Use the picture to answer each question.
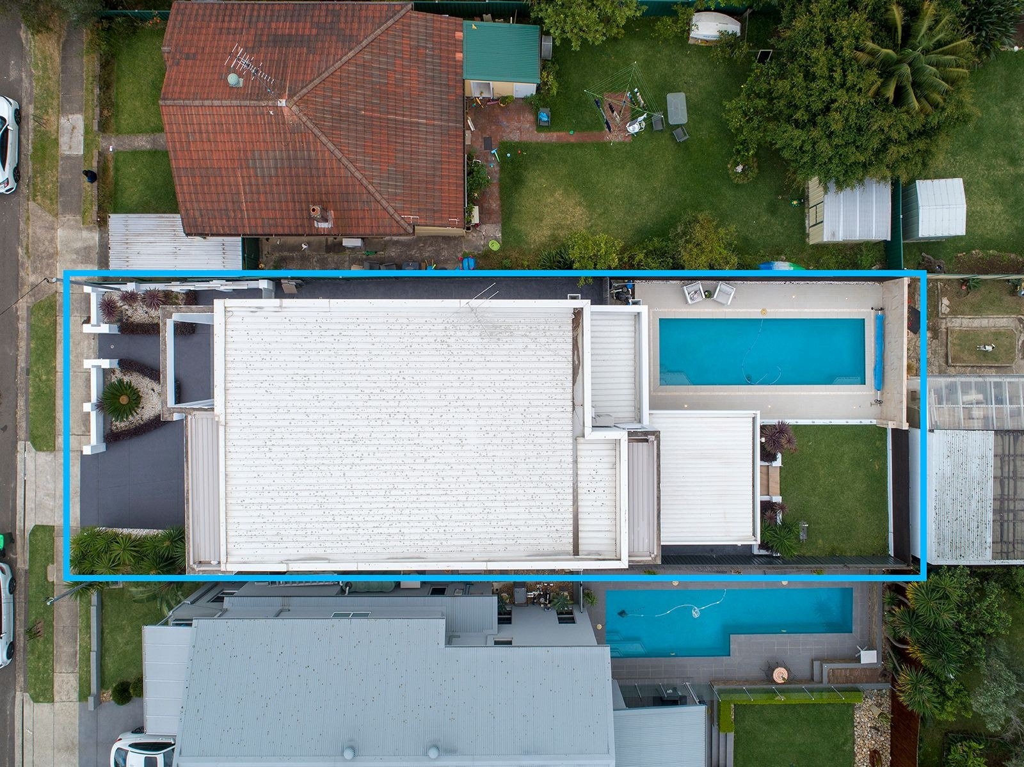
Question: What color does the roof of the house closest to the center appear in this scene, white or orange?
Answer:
white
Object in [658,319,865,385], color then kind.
blue swimming pool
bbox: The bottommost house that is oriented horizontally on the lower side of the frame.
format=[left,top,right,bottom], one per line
[169,578,618,767]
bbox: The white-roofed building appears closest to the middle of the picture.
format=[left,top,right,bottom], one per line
[215,289,649,571]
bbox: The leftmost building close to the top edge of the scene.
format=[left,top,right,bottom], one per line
[158,0,468,239]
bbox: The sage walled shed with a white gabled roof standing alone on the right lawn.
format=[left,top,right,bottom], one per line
[904,179,971,243]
